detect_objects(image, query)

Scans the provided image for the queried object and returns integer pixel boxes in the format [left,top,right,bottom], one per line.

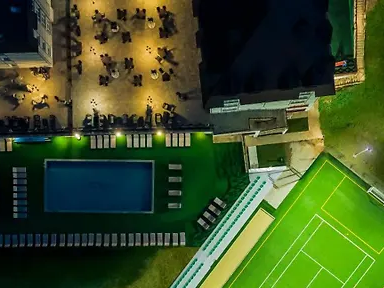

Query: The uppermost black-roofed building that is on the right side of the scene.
[188,0,336,114]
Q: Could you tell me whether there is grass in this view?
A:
Yes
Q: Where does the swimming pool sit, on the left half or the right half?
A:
left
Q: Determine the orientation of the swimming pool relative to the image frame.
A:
from side to side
